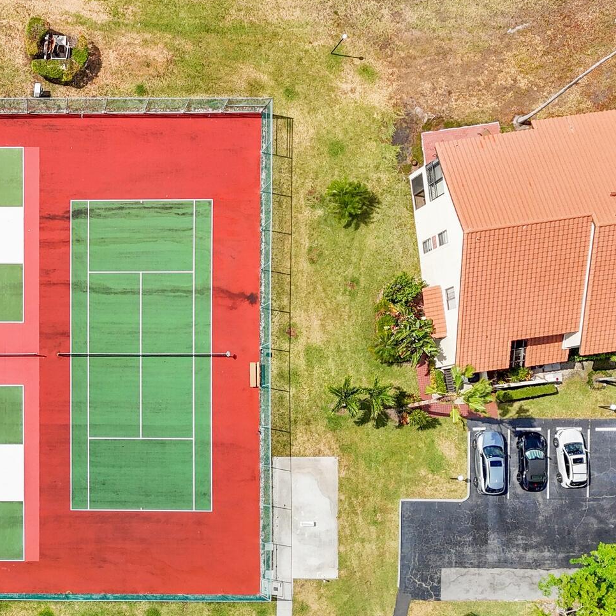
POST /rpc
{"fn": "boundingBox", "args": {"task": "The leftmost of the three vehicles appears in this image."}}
[475,431,508,496]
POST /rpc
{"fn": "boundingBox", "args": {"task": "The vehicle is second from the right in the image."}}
[519,433,551,490]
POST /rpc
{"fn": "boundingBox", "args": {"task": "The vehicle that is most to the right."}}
[557,428,593,489]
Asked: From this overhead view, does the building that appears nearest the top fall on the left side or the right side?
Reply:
left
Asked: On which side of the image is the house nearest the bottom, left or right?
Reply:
right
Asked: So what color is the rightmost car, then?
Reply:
white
